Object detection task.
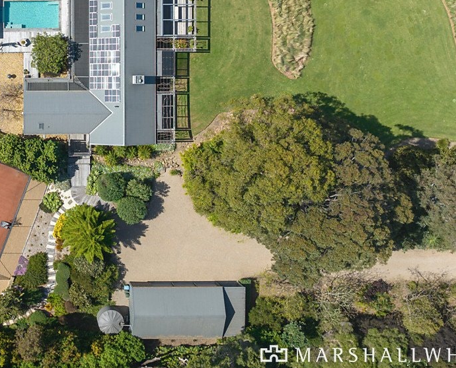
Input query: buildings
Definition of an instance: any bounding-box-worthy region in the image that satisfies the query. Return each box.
[129,281,246,339]
[24,0,157,157]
